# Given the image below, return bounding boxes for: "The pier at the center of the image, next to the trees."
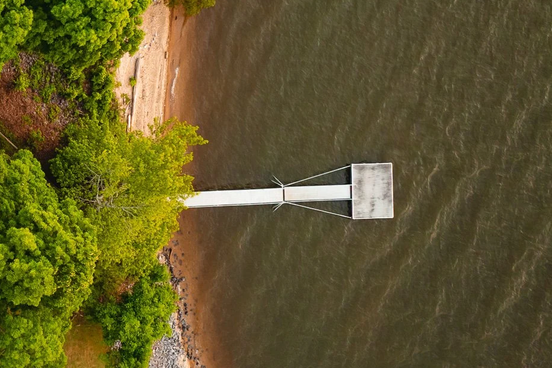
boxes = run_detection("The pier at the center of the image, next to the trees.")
[184,161,394,220]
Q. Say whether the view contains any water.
Yes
